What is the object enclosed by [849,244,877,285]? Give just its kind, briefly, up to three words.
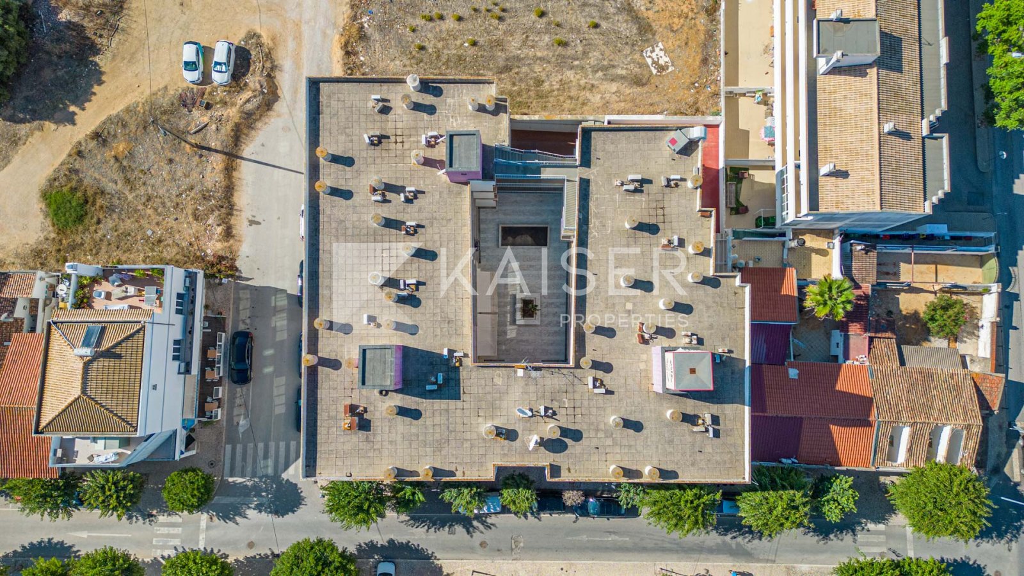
building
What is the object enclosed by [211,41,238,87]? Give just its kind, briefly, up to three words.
car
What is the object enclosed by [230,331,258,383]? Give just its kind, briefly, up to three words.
car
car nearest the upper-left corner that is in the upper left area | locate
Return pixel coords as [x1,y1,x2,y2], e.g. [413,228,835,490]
[182,41,209,86]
